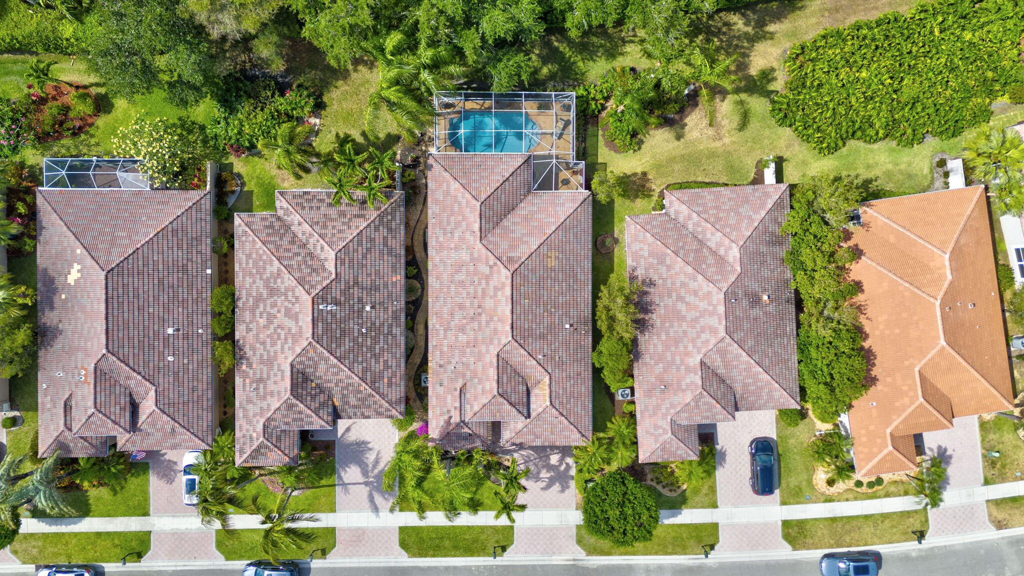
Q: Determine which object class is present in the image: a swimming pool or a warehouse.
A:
swimming pool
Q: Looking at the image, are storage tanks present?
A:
No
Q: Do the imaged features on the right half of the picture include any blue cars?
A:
Yes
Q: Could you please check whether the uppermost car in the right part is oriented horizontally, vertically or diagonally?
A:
vertically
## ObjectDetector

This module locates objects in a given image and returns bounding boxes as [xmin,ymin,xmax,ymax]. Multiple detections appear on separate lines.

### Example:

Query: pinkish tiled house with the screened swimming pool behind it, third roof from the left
[427,152,594,451]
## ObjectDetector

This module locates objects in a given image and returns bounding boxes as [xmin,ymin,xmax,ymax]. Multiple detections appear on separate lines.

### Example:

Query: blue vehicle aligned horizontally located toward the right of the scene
[823,550,885,576]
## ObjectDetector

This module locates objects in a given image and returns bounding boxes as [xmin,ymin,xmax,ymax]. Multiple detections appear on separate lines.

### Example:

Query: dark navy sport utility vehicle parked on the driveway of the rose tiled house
[747,435,779,496]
